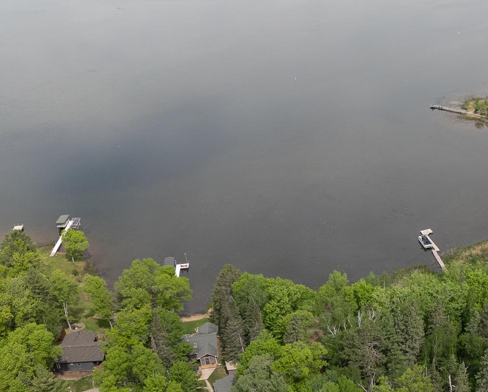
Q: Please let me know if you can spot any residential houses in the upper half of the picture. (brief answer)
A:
No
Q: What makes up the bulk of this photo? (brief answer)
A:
water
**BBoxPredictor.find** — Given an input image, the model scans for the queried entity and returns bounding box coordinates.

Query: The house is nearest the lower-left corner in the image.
[53,331,108,372]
